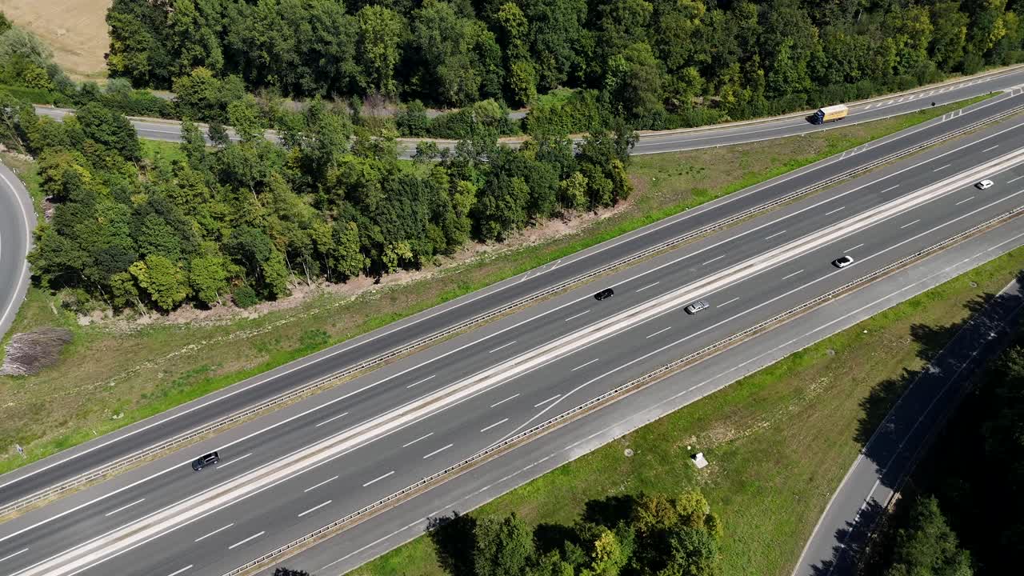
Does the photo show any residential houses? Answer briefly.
No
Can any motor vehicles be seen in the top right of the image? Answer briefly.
Yes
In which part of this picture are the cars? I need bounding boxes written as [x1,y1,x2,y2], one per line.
[592,288,613,302]
[687,298,709,311]
[191,451,219,471]
[834,255,853,267]
[975,179,992,189]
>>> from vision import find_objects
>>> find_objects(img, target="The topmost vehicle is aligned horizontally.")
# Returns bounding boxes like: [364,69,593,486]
[815,101,857,123]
